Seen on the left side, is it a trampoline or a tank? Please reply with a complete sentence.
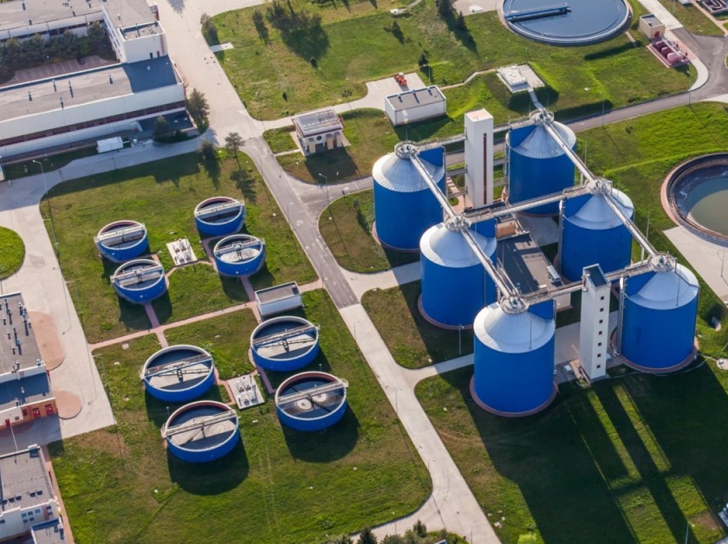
What appears on the left side is a tank.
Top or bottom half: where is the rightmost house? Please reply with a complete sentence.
The rightmost house is in the top half of the image.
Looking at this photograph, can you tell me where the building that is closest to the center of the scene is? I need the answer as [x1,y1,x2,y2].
[253,282,304,318]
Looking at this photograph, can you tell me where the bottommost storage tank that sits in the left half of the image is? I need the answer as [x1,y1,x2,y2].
[158,406,244,469]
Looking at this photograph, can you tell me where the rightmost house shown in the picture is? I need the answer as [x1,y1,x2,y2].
[639,13,667,39]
